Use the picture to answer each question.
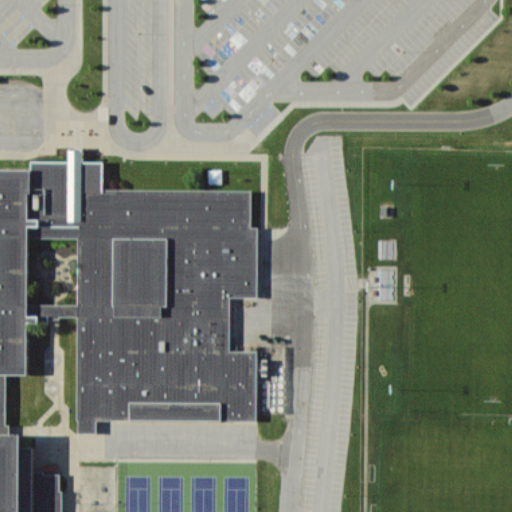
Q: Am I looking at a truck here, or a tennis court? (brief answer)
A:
tennis court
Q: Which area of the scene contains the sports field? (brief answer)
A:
right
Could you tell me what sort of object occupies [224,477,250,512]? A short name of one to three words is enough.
tennis court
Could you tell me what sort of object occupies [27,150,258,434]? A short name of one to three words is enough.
building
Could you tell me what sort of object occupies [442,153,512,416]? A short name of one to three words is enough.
sports field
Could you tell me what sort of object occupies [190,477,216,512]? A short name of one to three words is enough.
tennis court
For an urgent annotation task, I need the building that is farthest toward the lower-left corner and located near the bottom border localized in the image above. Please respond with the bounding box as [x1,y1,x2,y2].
[0,377,62,512]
